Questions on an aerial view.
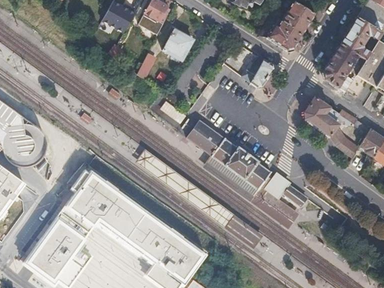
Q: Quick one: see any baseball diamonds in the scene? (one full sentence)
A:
No, there appears to be no baseball diamond in this shot.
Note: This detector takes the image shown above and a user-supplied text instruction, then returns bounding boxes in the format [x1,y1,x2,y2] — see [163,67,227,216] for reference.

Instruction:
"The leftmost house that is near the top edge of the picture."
[102,0,136,34]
